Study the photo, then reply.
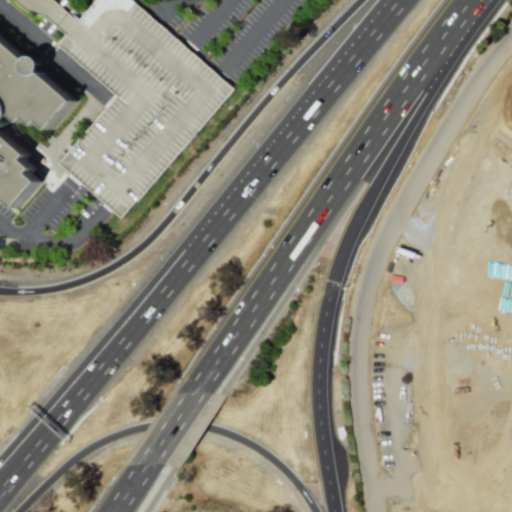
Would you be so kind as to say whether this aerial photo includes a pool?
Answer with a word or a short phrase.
No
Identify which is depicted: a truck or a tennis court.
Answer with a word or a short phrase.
truck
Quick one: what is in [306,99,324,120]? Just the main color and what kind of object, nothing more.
white vehicle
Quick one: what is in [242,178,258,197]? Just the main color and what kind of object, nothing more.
white vehicle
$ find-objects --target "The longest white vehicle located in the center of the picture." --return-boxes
[289,217,321,258]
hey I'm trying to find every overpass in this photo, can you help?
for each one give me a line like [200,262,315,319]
[123,394,230,468]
